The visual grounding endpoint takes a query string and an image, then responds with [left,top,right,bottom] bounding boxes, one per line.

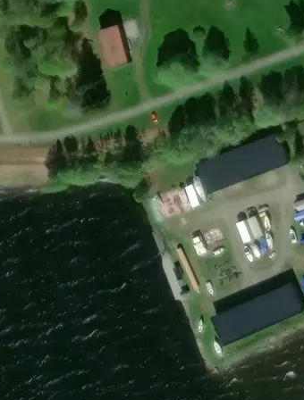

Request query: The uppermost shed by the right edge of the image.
[196,134,292,194]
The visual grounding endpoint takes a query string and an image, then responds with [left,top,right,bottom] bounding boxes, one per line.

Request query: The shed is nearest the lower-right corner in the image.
[211,282,304,347]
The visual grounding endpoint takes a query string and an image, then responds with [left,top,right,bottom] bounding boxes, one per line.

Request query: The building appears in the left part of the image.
[99,25,131,67]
